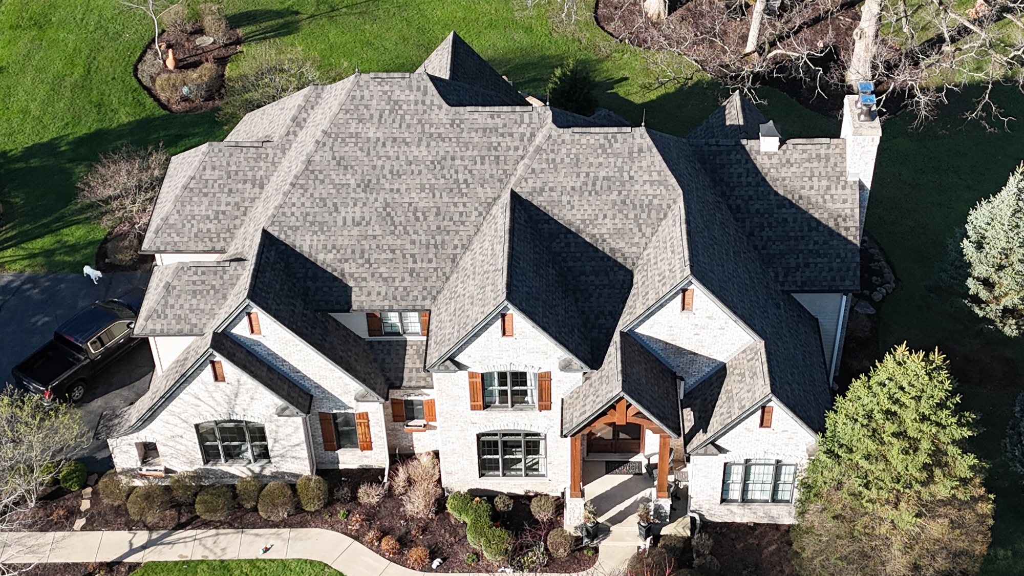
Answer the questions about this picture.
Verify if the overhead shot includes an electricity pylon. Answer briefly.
No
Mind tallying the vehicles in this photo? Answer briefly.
1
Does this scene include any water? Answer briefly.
No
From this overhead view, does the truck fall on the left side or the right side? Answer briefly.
left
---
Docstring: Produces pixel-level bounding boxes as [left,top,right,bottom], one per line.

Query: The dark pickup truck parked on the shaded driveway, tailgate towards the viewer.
[10,283,151,416]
